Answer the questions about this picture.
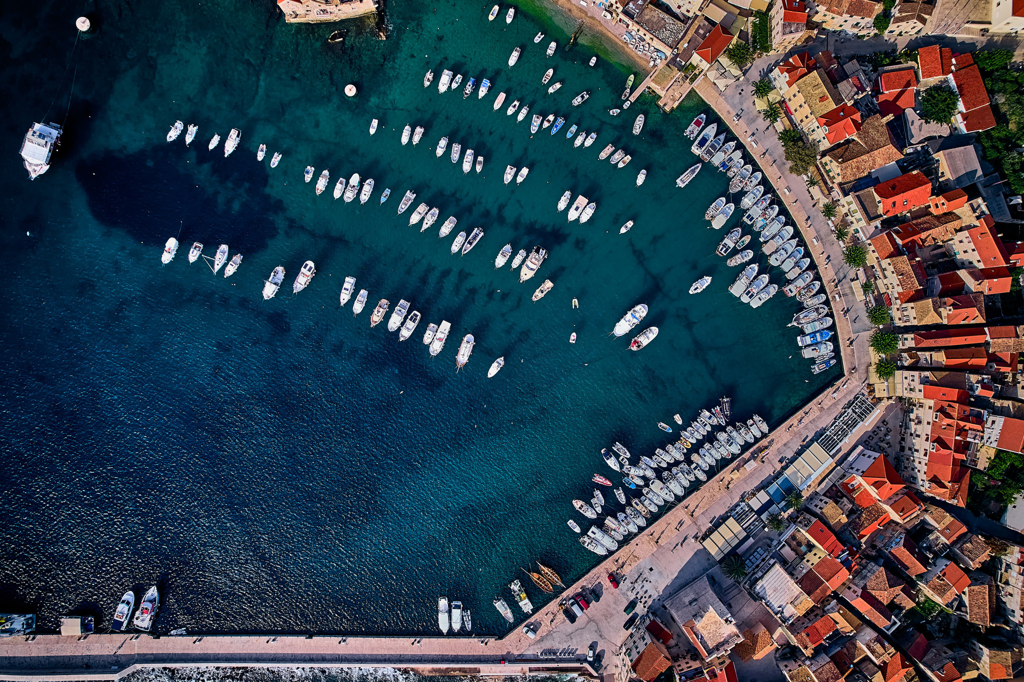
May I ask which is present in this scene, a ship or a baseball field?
ship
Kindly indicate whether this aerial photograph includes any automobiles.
Yes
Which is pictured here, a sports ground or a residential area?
residential area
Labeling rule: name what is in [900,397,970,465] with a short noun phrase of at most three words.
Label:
house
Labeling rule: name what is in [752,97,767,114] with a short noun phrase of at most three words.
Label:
umbrella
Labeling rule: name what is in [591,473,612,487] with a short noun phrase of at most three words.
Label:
boat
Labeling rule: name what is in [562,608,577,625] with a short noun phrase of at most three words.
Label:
car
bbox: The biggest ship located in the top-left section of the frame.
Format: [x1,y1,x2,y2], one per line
[17,122,67,178]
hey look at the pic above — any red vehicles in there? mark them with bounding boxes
[606,573,620,590]
[575,594,591,612]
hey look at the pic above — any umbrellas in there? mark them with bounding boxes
[726,64,744,81]
[765,88,783,105]
[752,97,767,114]
[714,55,731,72]
[705,62,724,82]
[715,71,734,90]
